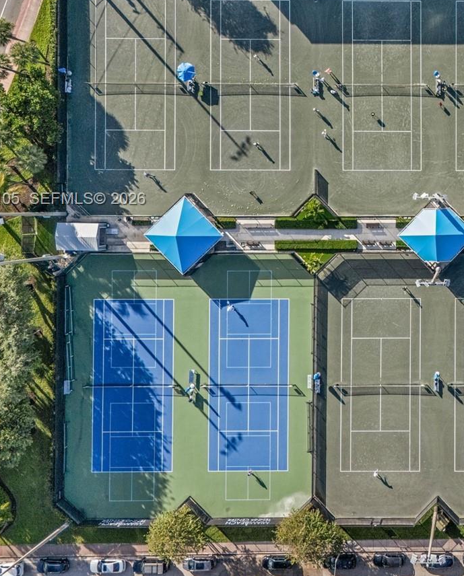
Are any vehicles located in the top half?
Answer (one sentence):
No, no vehicle is visible in the top half.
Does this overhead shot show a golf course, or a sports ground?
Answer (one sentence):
The picture captures a sports ground.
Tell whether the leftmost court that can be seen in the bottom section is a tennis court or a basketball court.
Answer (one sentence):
The leftmost court that can be seen in the bottom section can be classified as a tennis court.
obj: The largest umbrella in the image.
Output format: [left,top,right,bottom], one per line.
[176,62,197,82]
